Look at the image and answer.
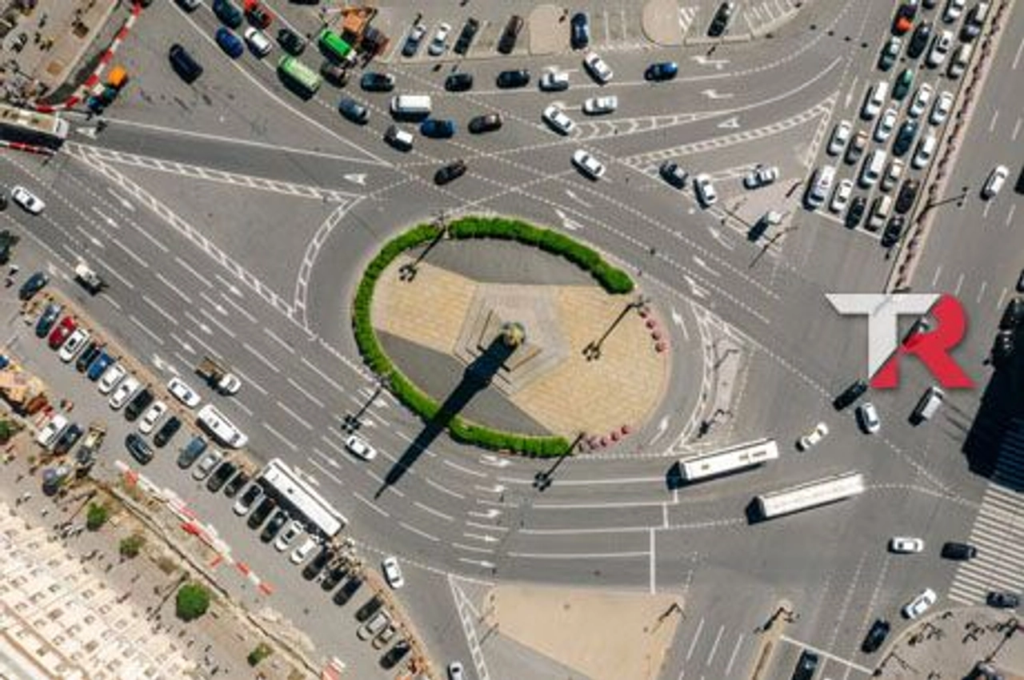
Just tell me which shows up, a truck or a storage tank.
truck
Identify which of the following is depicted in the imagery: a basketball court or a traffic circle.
traffic circle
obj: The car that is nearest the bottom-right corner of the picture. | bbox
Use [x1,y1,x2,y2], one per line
[981,590,1019,607]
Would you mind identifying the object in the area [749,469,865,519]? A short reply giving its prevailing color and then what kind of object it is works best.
white vehicle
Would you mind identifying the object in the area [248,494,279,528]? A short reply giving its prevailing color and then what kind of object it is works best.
black car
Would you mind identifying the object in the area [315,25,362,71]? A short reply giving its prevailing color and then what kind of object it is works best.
green truck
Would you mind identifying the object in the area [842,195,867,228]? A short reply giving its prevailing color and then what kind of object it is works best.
black car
